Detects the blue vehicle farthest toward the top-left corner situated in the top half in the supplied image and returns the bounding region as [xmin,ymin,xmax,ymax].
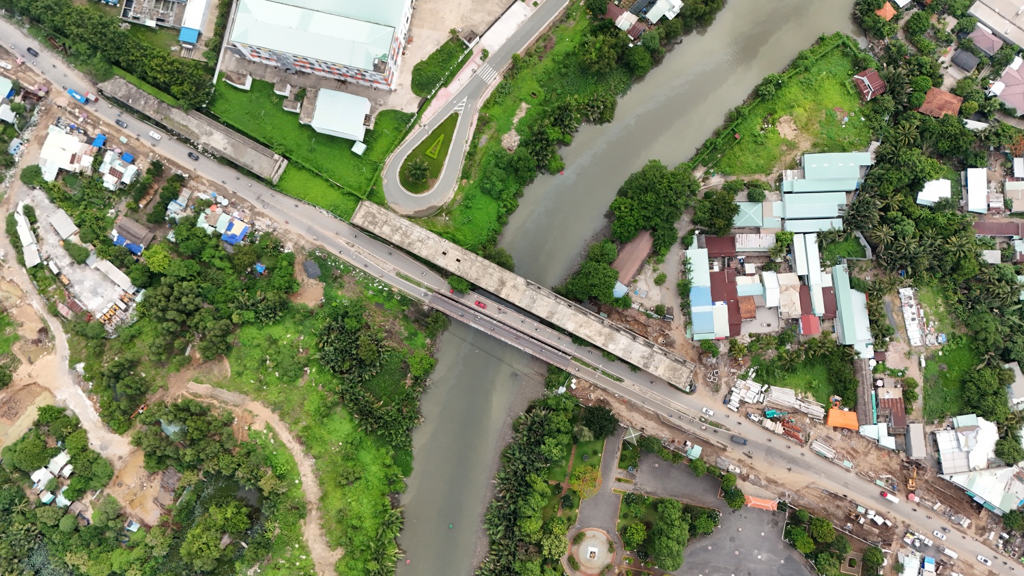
[66,87,91,104]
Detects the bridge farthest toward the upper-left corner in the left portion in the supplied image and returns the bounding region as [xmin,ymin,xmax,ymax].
[97,75,290,185]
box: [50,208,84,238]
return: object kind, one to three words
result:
house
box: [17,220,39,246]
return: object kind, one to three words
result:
shed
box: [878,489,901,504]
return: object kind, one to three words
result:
vehicle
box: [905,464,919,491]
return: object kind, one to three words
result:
work vehicle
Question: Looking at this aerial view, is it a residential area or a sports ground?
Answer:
residential area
